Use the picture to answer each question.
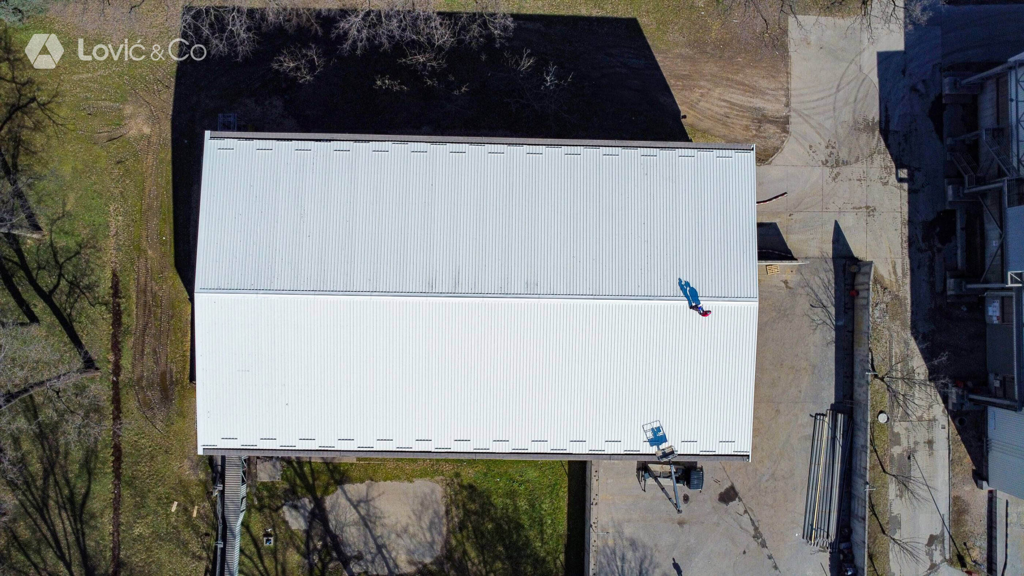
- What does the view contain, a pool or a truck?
truck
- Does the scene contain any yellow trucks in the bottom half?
No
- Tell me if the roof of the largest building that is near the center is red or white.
white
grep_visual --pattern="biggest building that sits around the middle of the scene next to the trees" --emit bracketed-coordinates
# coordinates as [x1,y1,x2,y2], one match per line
[194,132,758,462]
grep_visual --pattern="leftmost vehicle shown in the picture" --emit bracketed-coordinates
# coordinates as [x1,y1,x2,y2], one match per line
[636,443,705,515]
